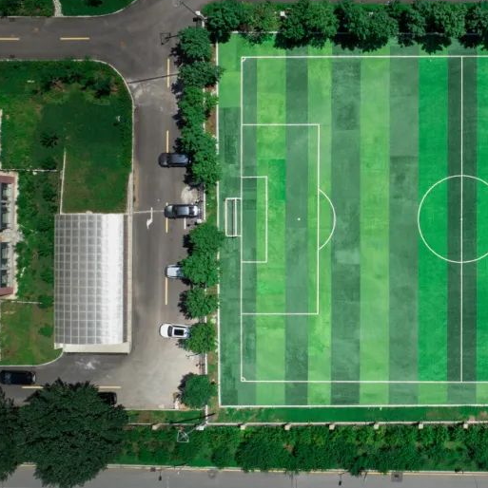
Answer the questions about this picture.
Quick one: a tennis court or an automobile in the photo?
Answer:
automobile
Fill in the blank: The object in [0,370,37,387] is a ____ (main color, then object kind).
black car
